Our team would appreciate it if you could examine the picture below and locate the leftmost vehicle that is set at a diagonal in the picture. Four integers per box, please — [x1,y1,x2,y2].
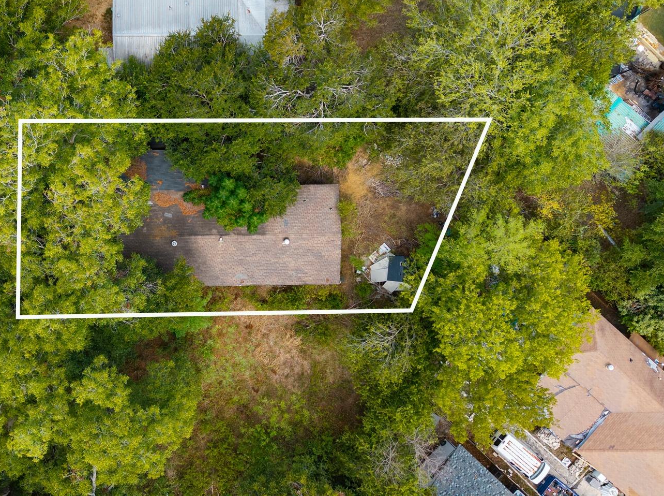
[489,429,550,487]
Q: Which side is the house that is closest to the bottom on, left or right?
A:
right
